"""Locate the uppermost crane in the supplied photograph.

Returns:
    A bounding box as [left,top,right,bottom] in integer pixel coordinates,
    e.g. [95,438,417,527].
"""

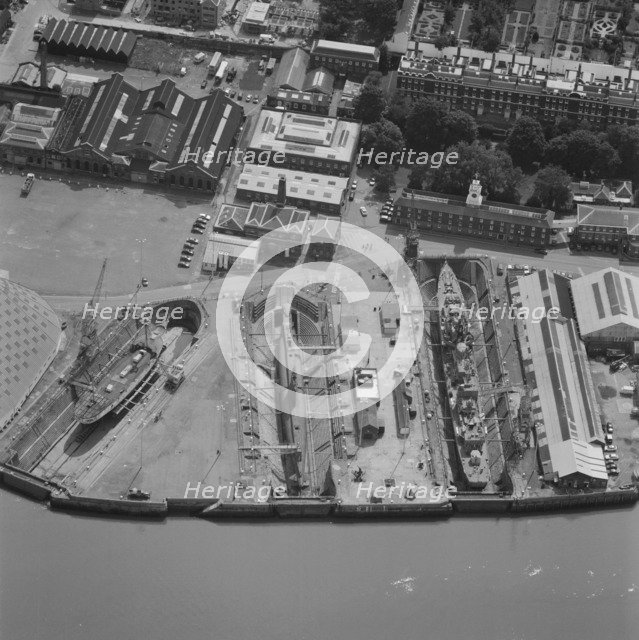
[401,199,425,271]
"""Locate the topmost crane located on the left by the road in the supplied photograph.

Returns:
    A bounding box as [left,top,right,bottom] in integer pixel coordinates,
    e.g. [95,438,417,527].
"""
[69,261,106,372]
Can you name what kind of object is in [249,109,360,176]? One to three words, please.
building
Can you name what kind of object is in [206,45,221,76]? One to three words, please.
vehicle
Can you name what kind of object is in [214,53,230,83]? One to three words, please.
vehicle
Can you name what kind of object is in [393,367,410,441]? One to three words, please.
shed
